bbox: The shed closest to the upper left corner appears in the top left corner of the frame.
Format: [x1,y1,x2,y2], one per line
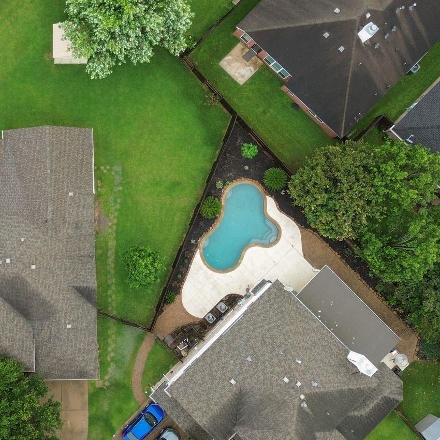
[53,24,88,62]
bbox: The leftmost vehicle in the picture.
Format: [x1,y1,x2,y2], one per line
[120,404,168,440]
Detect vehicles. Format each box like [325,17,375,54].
[156,428,184,440]
[120,404,168,440]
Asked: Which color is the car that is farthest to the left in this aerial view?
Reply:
blue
